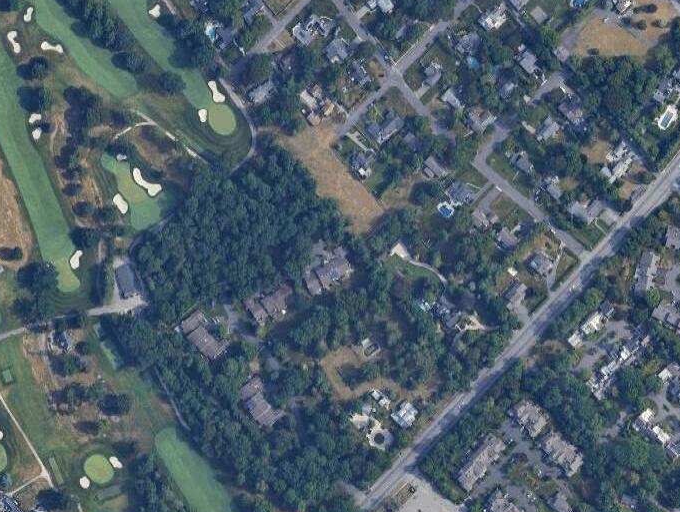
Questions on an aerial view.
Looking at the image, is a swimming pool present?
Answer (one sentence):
Yes, the picture does show a swimming pool.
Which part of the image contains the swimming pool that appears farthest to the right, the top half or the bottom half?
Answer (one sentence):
The top half of the photo is where the swimming pool that appears farthest to the right is.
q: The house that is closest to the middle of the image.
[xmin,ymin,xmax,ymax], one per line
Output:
[302,240,351,296]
